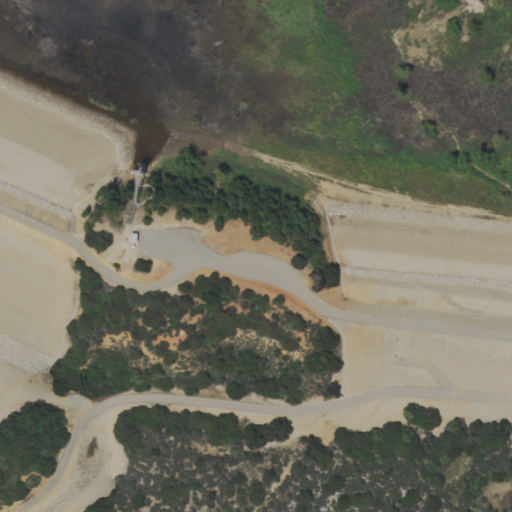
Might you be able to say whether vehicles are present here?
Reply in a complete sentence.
No, there's no vehicle here.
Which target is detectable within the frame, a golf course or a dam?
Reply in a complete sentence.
Looking from above, you can make out a dam.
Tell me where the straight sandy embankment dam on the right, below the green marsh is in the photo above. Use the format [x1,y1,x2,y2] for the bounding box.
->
[324,200,512,397]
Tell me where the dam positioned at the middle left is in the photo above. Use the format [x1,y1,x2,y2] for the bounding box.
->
[0,70,137,374]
